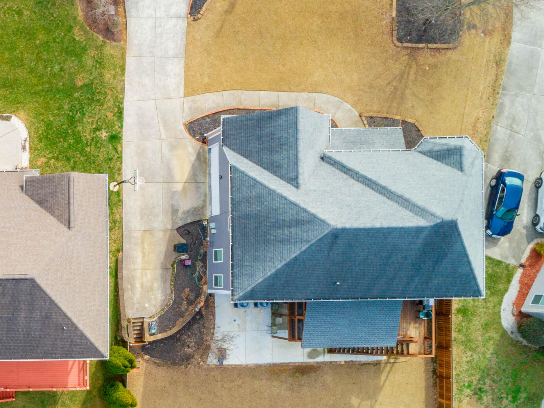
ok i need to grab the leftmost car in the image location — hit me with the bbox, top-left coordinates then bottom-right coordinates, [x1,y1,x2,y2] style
[484,173,527,236]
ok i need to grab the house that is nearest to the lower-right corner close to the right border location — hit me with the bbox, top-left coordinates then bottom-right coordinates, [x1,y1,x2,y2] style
[518,261,544,319]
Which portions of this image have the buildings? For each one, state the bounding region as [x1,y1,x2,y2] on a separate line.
[0,170,109,360]
[204,107,487,348]
[518,261,544,319]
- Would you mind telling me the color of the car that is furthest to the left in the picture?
blue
